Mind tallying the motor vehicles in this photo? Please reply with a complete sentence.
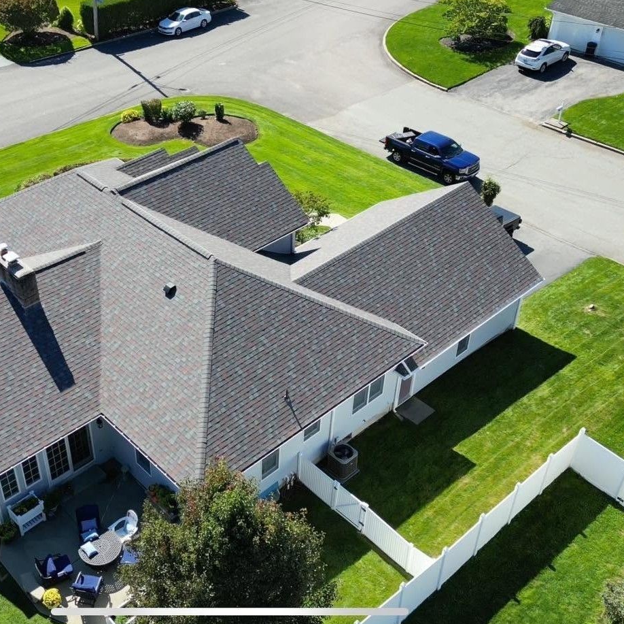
My tally gives 4 motor vehicles in this view.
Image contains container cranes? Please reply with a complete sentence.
No, this view has no container crane in it.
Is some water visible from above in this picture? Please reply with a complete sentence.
No, there's no water in this view.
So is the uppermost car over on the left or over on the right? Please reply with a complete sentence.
You can find the uppermost car on the left side of the picture.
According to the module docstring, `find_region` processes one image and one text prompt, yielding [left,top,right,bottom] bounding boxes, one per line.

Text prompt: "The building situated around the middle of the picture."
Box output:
[0,142,543,545]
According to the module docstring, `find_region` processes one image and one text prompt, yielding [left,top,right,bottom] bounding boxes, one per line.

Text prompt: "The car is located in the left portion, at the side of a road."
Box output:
[154,8,214,37]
